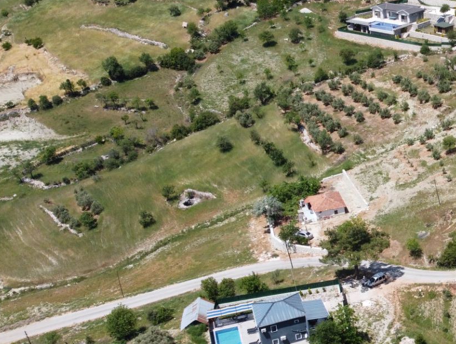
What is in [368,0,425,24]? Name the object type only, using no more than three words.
house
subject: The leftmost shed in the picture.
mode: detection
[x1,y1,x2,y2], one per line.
[177,289,208,323]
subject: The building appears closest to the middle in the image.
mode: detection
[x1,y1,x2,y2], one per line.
[300,188,348,226]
